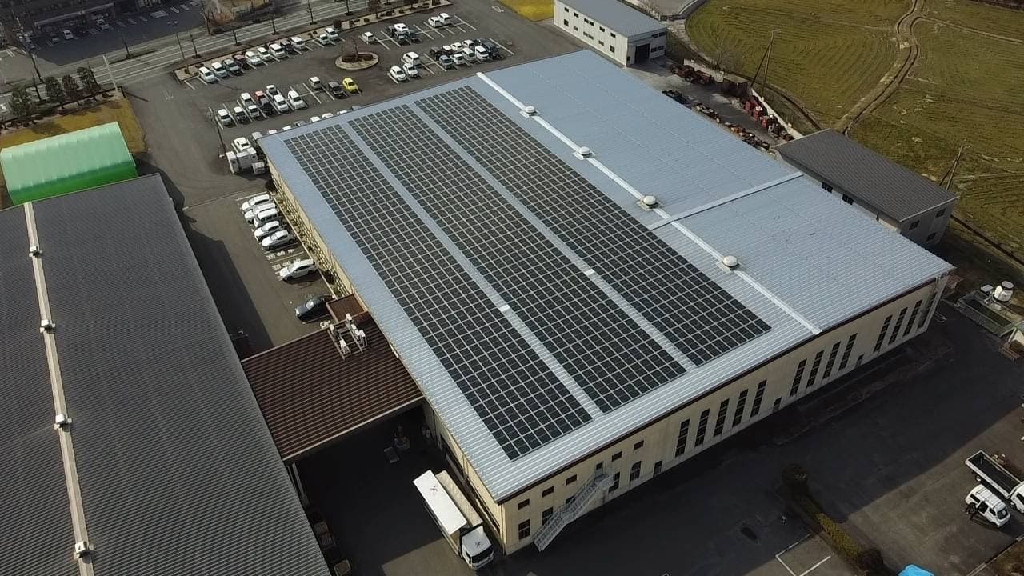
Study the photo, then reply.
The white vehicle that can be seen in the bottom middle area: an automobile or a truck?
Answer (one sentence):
What you see as the white vehicle that can be seen in the bottom middle area is a truck.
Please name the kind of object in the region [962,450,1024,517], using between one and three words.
truck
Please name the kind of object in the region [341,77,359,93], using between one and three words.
car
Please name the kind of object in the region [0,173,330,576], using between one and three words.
building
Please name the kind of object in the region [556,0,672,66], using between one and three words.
building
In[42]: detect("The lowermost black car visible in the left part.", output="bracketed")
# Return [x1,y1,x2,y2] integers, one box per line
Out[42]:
[291,295,334,322]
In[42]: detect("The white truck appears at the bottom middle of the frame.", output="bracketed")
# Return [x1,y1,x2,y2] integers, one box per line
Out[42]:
[413,462,500,571]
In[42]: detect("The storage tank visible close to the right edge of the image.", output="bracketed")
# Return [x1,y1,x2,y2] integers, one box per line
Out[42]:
[986,277,1019,309]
